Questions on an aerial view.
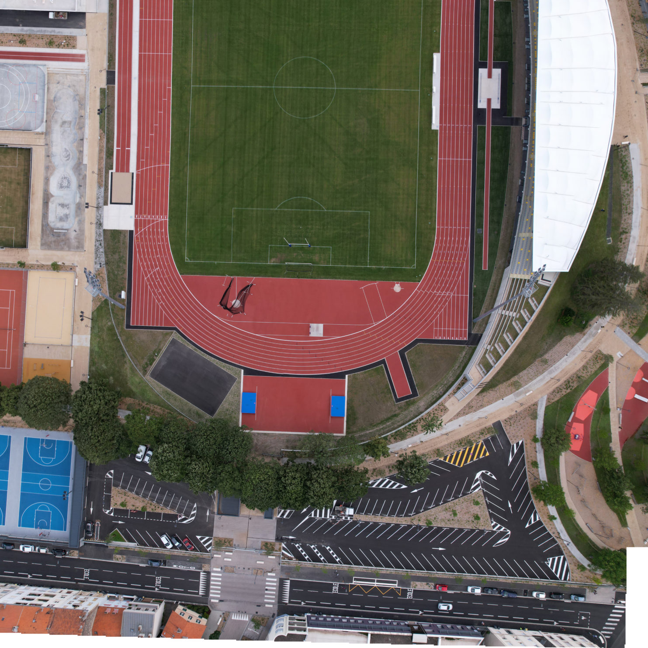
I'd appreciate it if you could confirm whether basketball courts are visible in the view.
Yes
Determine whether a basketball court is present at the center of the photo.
No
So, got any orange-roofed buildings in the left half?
Yes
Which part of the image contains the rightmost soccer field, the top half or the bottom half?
top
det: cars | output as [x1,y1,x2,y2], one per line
[86,521,94,537]
[550,591,565,601]
[51,547,67,557]
[182,537,195,551]
[35,545,49,554]
[569,593,586,602]
[20,544,35,553]
[435,584,449,592]
[160,533,173,550]
[148,558,163,568]
[1,542,15,550]
[468,585,482,593]
[437,602,453,612]
[136,446,144,462]
[143,450,153,464]
[483,587,498,597]
[170,534,182,549]
[532,590,546,599]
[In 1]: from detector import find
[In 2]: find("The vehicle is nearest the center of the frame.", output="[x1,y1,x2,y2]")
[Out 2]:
[334,505,355,517]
